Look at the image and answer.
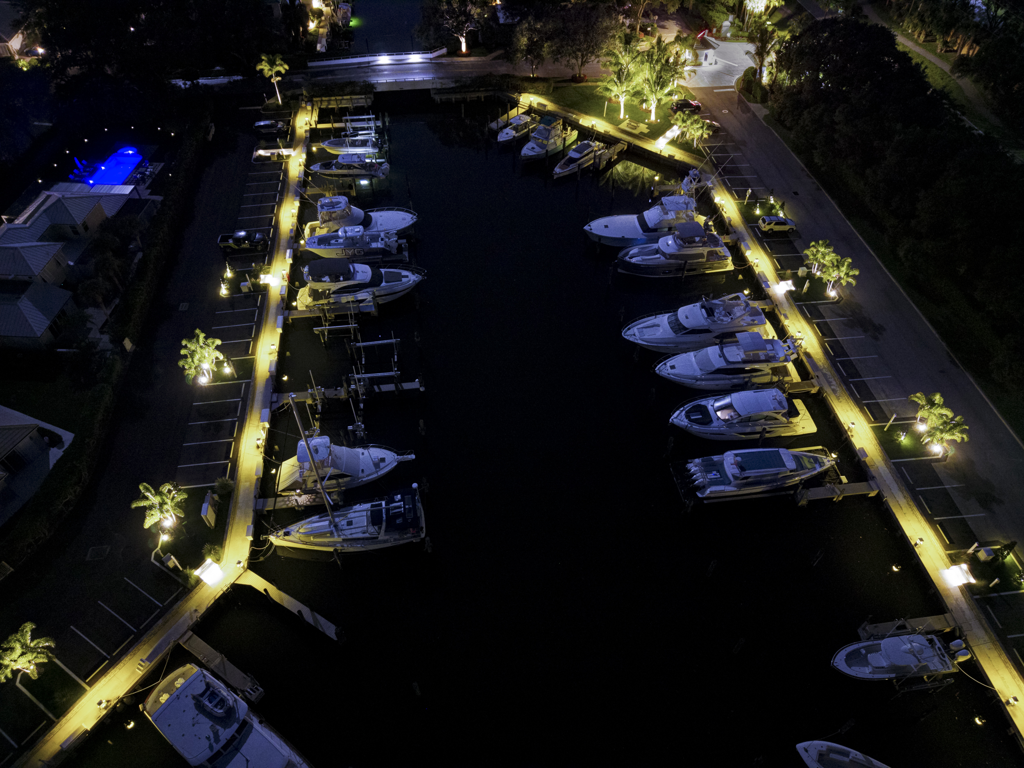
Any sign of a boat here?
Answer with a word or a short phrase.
Yes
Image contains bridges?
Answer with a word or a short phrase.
Yes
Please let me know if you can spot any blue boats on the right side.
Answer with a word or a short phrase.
Yes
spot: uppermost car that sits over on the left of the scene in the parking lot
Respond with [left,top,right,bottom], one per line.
[254,120,285,136]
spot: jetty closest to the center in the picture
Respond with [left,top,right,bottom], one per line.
[374,380,420,399]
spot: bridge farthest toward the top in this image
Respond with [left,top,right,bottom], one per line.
[305,42,448,90]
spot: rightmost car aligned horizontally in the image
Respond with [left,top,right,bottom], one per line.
[760,215,798,233]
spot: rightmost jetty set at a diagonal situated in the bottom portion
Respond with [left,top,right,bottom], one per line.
[236,570,344,647]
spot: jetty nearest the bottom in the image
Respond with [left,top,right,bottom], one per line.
[179,629,258,696]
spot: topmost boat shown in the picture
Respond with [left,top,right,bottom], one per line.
[338,3,352,30]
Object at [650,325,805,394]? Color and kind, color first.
blue boat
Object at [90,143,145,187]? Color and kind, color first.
blue swimming pool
